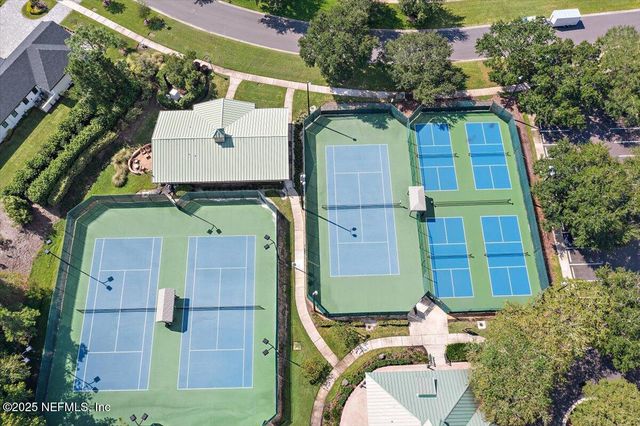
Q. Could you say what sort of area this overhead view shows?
sports ground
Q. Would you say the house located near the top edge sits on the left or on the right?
left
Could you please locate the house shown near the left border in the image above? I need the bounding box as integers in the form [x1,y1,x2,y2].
[0,20,83,142]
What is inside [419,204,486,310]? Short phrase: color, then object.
blue sports court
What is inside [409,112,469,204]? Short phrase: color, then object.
blue sports court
